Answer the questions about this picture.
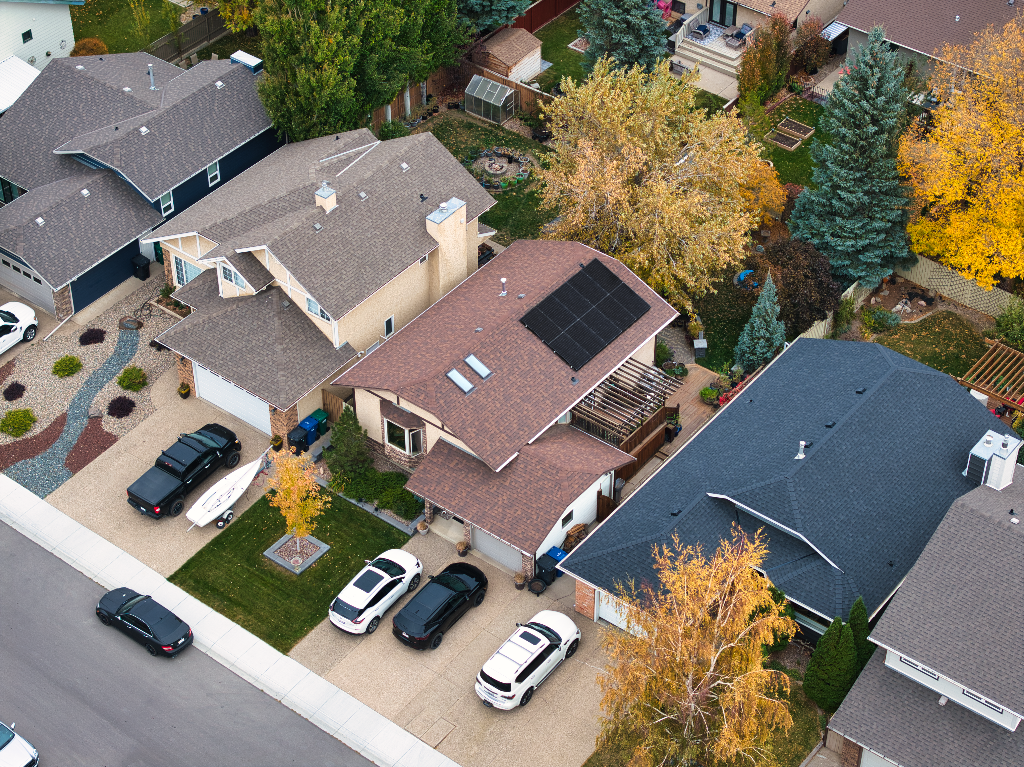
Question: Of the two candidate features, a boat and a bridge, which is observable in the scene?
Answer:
boat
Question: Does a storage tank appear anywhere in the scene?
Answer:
No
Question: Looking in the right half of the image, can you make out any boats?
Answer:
No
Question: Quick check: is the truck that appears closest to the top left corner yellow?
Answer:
No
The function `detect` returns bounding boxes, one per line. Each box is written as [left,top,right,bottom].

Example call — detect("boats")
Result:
[185,445,273,532]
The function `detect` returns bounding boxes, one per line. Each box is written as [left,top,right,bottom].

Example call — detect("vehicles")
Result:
[469,609,579,715]
[96,584,199,661]
[320,549,420,640]
[386,563,486,656]
[0,720,38,767]
[0,301,38,354]
[121,423,242,523]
